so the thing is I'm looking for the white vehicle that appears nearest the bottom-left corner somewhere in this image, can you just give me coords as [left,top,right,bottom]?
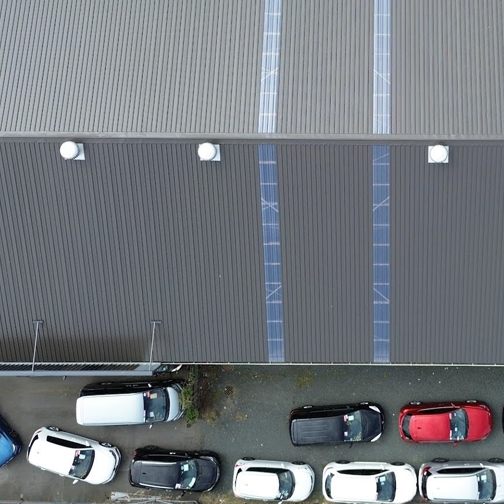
[32,425,120,485]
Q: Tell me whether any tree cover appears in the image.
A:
No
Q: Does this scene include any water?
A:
No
